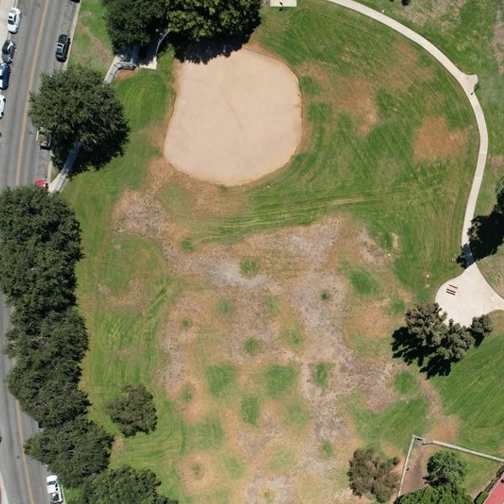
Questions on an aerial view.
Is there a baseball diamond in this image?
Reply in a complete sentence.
Yes, there's a baseball diamond down there.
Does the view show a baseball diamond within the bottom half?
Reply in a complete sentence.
No, no baseball diamond appears within the bottom half.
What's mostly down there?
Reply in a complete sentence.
For the most part, this view shows grass.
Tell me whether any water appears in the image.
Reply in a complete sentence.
No, water can't be seen anywhere here.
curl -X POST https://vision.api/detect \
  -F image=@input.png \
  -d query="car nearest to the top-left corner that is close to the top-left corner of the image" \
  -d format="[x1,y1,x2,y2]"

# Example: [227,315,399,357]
[7,7,23,34]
